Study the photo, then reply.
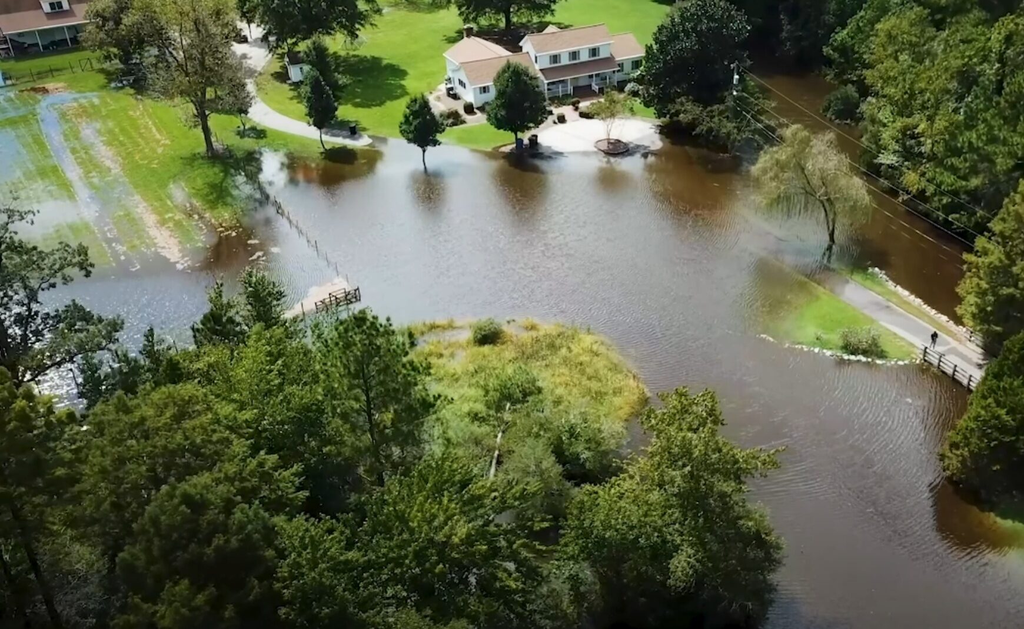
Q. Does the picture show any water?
Yes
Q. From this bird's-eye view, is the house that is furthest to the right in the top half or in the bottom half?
top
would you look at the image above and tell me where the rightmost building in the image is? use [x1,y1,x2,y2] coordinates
[437,20,648,106]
